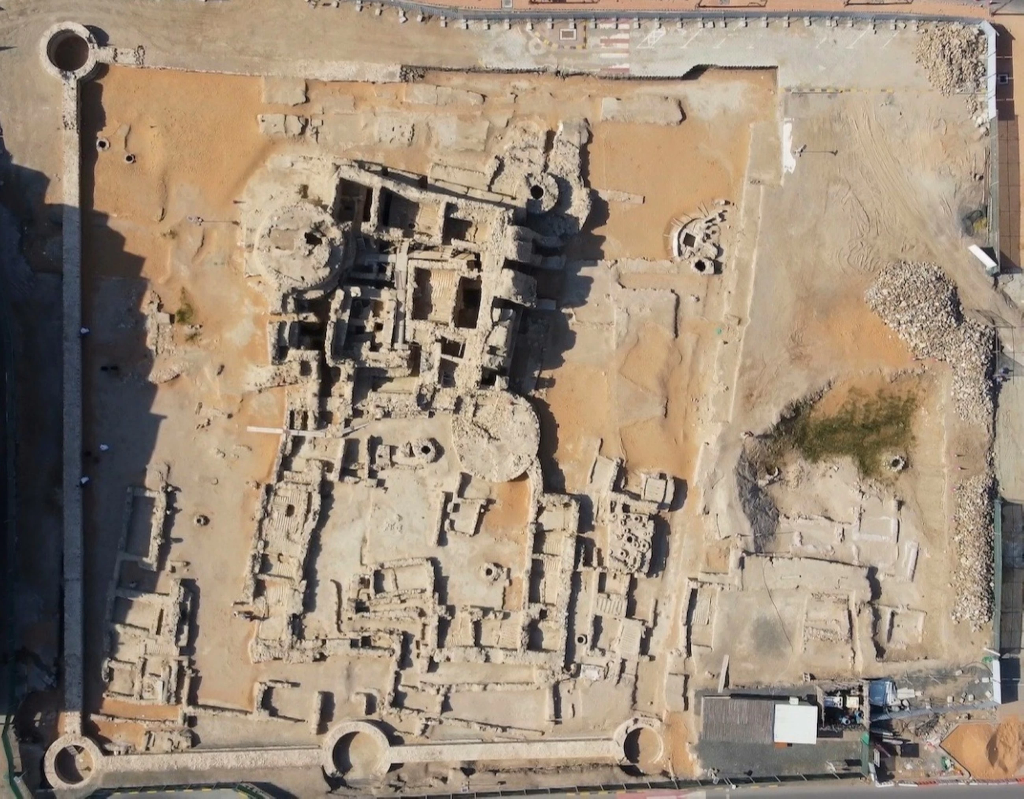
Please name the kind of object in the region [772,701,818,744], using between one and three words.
building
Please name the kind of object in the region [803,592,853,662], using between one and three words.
house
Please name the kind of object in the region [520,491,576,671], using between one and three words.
house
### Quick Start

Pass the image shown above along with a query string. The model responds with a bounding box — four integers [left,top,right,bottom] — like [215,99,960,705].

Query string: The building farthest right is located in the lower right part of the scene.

[875,605,928,649]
